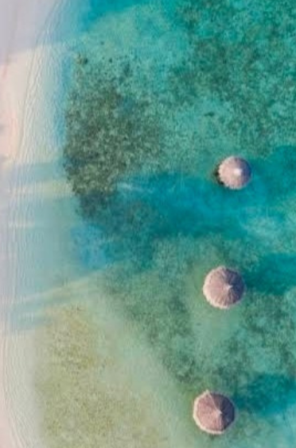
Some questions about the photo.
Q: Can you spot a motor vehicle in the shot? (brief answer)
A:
No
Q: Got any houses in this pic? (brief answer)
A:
No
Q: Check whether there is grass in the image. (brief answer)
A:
No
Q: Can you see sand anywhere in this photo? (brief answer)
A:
Yes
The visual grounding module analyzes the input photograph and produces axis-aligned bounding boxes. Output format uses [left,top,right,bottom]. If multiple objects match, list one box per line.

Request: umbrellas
[214,155,249,190]
[191,391,233,432]
[203,266,244,307]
